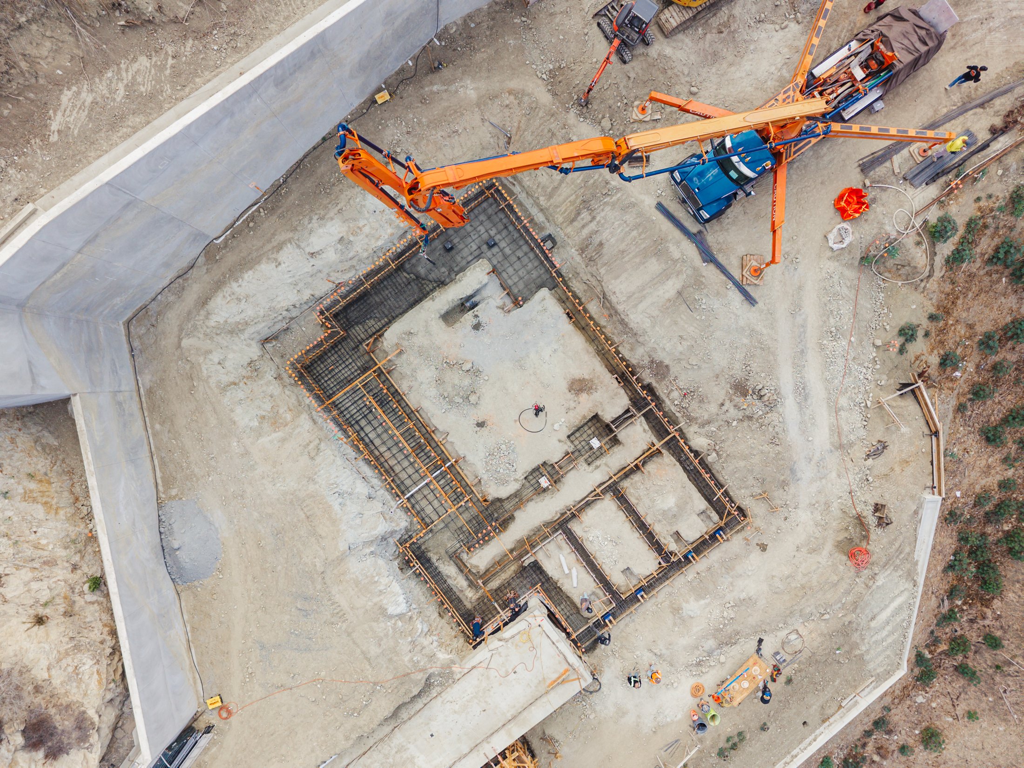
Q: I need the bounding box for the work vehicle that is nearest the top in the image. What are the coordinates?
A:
[653,0,735,42]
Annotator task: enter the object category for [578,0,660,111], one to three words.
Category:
work vehicle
